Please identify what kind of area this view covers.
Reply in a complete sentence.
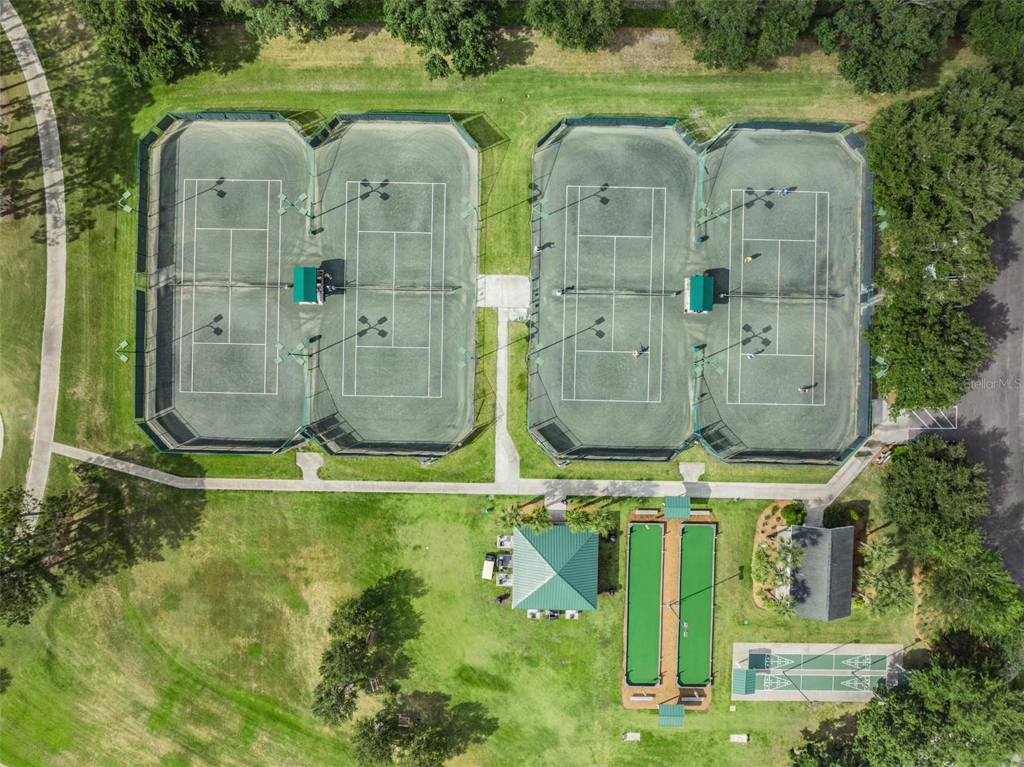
The area seen from above is a sports ground.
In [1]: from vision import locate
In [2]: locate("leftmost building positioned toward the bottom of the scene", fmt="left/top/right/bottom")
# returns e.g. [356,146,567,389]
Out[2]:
[512,524,599,611]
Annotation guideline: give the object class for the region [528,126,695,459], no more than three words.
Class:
tennis court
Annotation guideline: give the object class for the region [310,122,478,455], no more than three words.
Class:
tennis court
